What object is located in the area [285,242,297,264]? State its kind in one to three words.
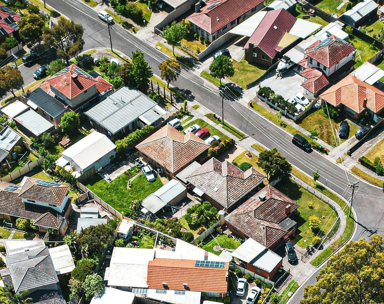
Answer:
vehicle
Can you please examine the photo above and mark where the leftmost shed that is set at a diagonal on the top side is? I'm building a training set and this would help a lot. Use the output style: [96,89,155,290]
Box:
[5,91,55,145]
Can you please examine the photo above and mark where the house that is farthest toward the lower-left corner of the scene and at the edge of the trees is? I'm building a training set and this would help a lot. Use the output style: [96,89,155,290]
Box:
[1,240,77,304]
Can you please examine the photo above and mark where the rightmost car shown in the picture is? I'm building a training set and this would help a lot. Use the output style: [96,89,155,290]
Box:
[352,126,375,140]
